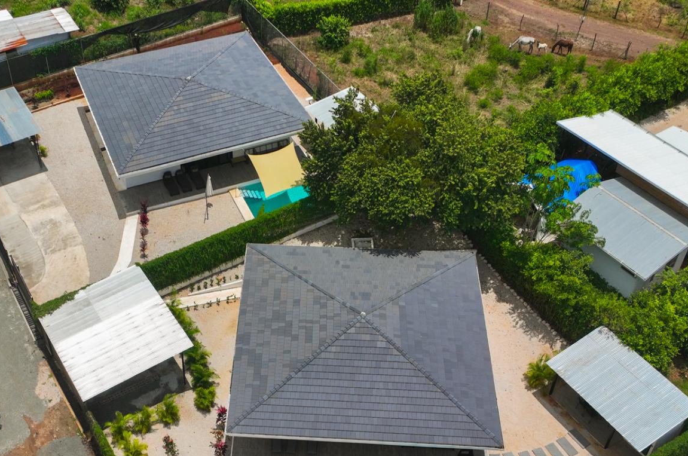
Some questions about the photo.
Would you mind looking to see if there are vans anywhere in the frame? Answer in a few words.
No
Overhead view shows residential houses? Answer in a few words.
Yes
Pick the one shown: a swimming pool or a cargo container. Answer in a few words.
swimming pool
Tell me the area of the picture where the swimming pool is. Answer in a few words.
center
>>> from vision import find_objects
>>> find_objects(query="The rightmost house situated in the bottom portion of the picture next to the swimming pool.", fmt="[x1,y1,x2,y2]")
[226,242,504,456]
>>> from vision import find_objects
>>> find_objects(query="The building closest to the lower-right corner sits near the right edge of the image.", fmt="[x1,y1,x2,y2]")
[548,326,688,456]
